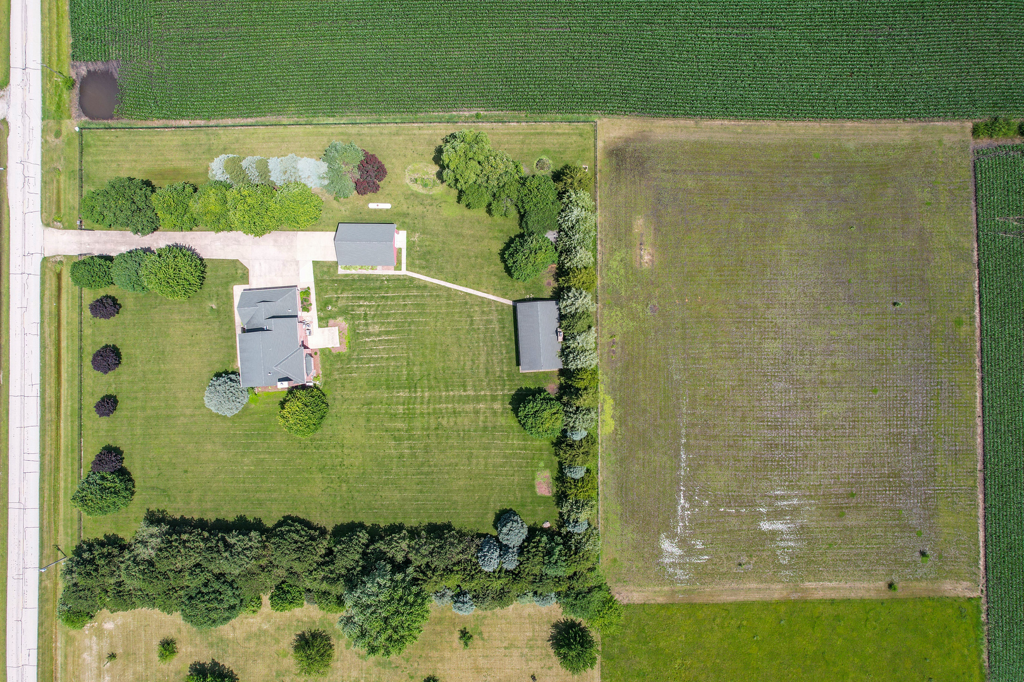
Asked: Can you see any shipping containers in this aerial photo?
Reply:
No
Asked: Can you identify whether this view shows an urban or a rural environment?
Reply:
rural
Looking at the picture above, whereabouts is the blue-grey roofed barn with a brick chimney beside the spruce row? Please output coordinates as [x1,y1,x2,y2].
[517,300,564,371]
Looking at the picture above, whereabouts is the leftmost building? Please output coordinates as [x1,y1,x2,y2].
[237,287,316,388]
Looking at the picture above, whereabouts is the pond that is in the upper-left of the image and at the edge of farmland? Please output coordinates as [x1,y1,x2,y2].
[79,69,119,119]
